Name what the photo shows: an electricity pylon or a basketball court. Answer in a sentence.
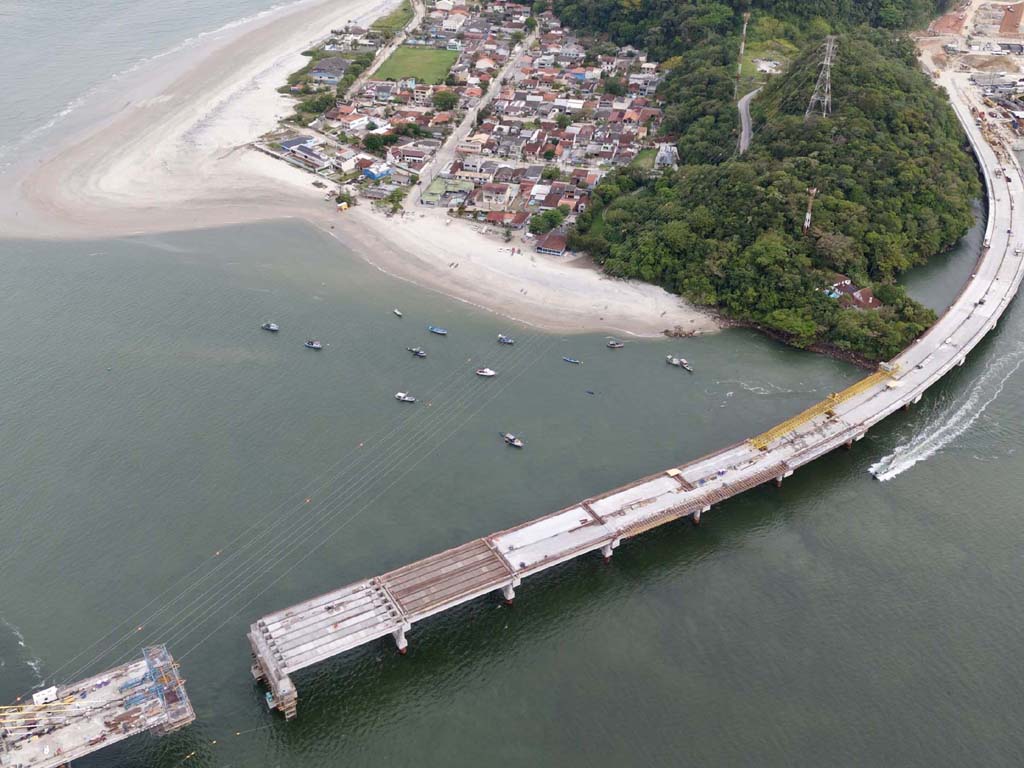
Visible in the photo is an electricity pylon.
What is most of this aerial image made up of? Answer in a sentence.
For the most part, this view shows water.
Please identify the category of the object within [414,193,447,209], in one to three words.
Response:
house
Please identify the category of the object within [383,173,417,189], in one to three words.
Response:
house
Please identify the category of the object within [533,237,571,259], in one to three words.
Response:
building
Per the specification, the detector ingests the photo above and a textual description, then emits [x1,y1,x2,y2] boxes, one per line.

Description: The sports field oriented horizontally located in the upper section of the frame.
[373,46,461,83]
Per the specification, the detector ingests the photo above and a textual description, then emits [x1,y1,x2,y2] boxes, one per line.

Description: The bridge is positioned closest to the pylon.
[250,93,1024,688]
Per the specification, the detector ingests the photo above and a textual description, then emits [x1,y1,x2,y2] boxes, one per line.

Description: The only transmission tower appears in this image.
[802,30,840,117]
